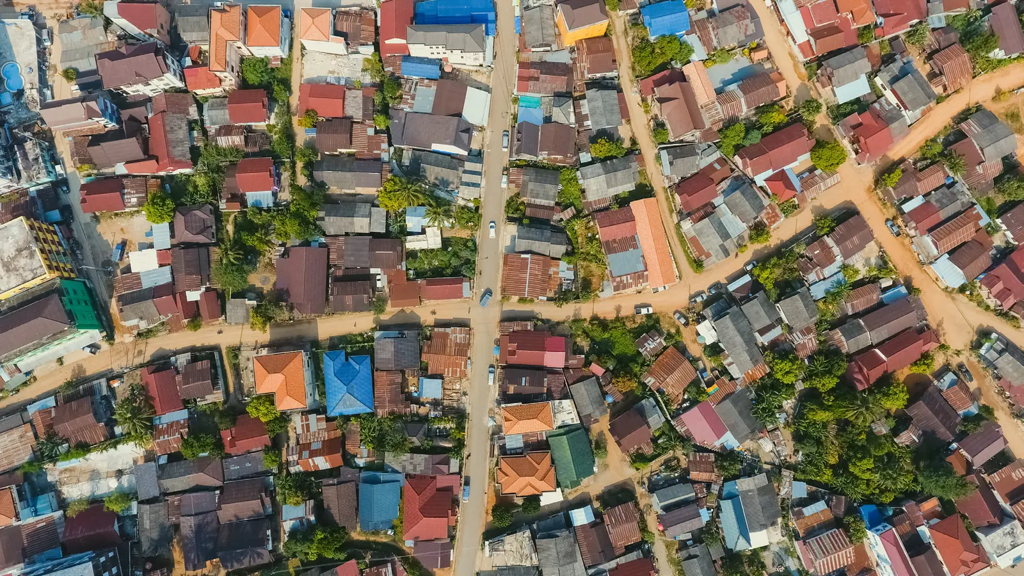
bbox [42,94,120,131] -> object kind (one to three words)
building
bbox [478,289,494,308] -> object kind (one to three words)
vehicle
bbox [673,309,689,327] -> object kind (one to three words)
car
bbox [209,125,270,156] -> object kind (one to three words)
house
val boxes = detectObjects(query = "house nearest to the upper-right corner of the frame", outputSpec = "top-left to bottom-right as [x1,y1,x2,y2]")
[981,1,1024,60]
